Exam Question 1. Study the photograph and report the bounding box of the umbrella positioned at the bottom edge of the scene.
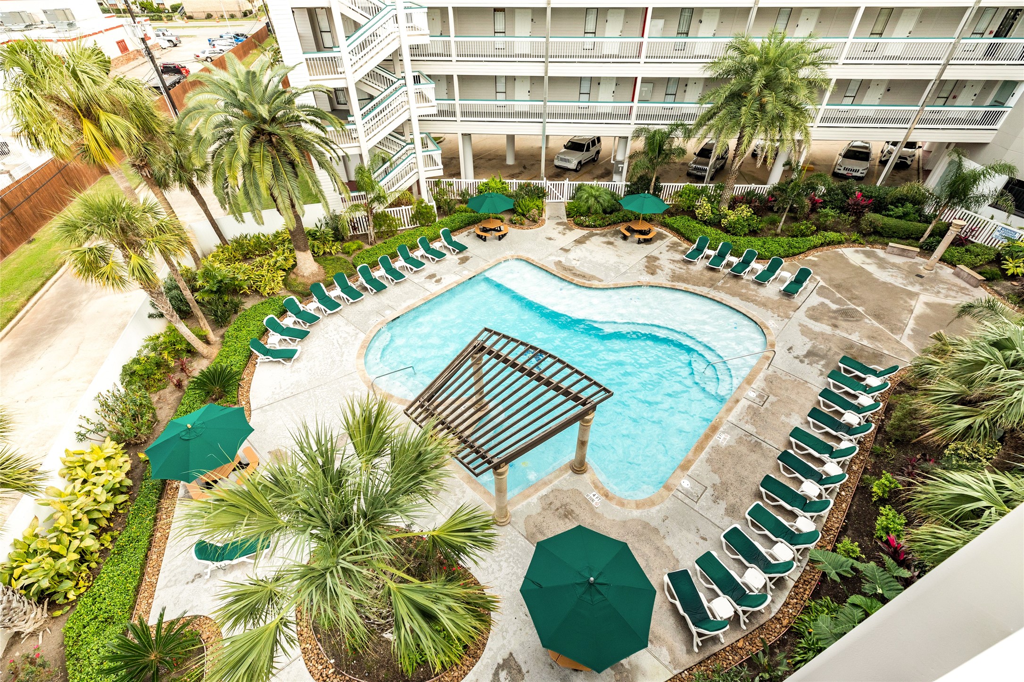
[519,527,656,678]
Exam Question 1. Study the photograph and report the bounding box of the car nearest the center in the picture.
[556,135,600,170]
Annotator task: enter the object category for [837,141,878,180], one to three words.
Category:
car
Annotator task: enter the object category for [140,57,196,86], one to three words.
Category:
truck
